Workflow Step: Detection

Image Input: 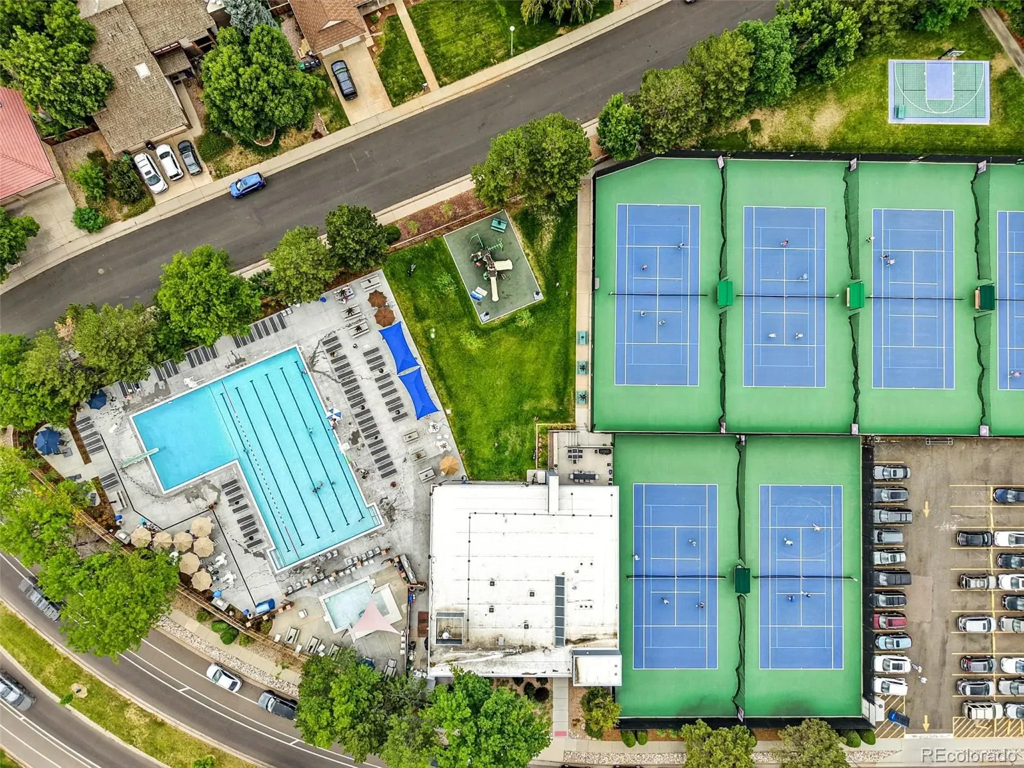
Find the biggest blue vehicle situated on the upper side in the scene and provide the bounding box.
[230,173,268,197]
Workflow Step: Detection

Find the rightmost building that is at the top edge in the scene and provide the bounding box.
[291,0,397,62]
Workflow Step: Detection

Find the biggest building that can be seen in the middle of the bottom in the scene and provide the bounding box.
[431,472,622,687]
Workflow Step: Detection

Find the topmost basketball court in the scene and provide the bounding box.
[888,59,990,125]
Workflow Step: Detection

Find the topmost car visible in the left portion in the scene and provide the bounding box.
[332,59,357,101]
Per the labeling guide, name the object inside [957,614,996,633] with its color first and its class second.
white car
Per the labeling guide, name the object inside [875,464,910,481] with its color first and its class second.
gray car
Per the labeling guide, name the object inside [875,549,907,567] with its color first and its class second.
gray car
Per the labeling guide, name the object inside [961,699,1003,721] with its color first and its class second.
white car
